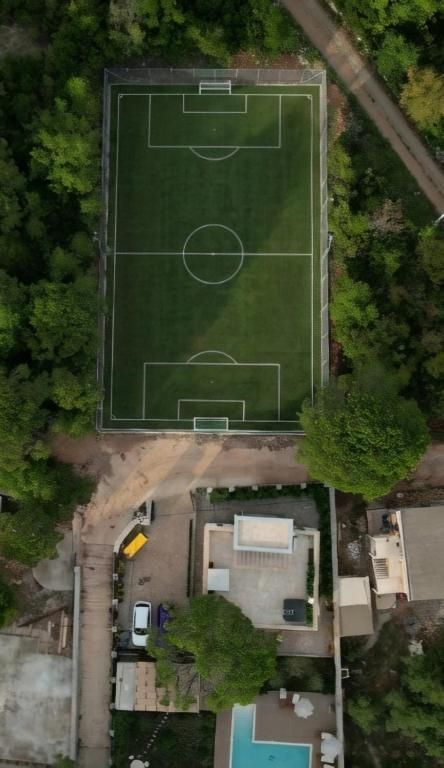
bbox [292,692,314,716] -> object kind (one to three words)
umbrella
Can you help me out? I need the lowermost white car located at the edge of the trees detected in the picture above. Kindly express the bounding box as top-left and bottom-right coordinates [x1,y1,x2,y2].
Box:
[129,599,153,646]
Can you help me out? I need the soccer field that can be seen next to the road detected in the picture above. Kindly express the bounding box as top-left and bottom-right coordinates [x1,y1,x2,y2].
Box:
[102,85,320,430]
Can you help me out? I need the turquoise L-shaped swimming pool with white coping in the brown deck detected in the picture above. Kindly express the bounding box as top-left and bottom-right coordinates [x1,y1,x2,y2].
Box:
[229,699,315,768]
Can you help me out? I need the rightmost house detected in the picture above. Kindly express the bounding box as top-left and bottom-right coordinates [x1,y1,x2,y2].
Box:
[362,500,444,610]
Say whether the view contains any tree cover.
Yes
